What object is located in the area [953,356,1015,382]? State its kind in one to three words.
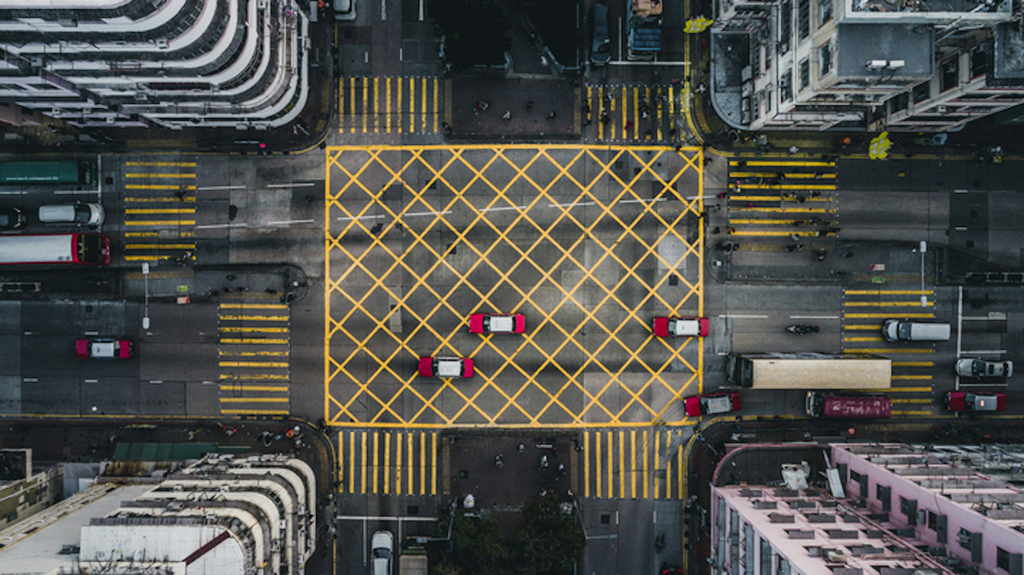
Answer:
car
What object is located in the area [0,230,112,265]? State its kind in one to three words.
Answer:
bus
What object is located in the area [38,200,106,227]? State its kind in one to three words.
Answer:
vehicle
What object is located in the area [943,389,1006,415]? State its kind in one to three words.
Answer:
car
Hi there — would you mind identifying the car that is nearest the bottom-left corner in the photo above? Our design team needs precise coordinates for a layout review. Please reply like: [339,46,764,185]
[77,337,137,363]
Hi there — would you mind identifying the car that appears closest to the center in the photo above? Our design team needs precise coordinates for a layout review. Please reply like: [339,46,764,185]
[468,311,527,337]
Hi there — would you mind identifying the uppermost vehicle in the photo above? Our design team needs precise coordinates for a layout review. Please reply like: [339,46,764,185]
[331,0,358,22]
